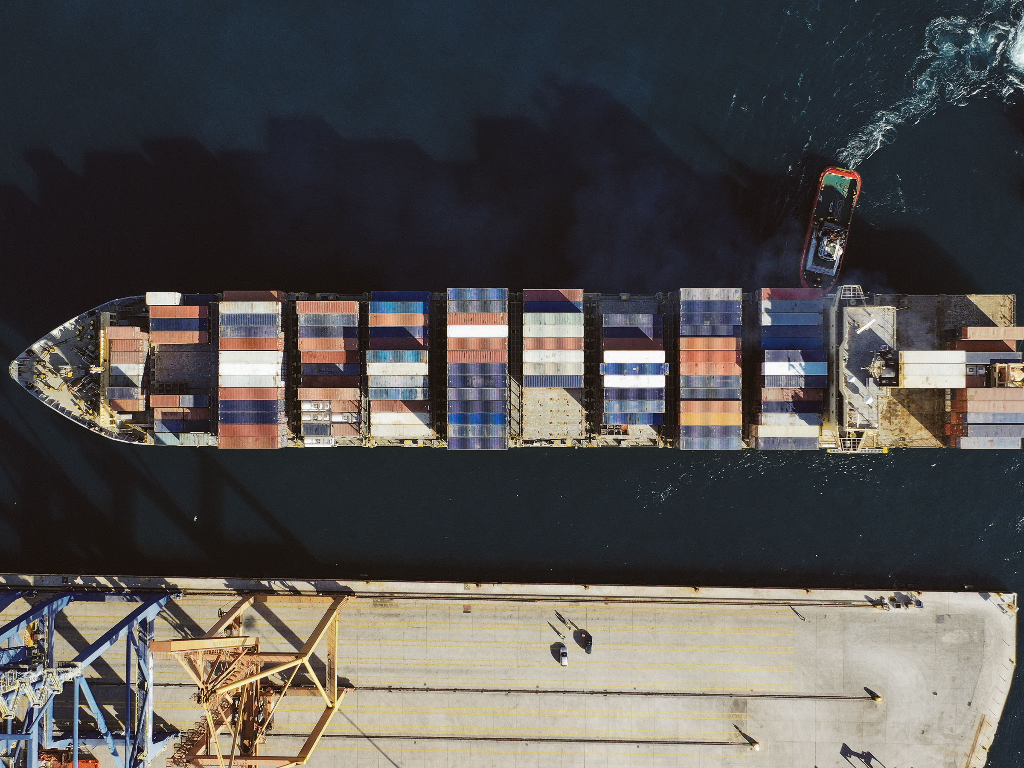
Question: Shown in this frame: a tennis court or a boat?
boat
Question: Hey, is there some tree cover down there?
No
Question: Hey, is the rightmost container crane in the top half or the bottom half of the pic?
bottom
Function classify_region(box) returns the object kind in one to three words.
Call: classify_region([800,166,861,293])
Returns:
boat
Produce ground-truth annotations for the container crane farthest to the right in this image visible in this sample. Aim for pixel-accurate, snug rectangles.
[139,594,379,768]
